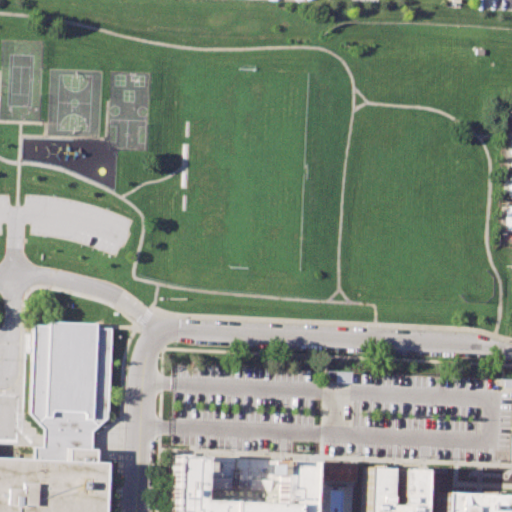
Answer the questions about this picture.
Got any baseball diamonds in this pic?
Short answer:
No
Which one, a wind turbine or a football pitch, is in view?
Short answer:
football pitch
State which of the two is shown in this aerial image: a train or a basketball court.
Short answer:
basketball court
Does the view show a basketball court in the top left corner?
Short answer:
Yes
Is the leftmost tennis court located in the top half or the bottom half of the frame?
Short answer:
top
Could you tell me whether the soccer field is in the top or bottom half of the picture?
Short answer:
top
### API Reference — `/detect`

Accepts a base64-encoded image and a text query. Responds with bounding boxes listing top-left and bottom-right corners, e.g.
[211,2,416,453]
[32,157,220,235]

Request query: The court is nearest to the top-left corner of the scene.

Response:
[0,40,44,120]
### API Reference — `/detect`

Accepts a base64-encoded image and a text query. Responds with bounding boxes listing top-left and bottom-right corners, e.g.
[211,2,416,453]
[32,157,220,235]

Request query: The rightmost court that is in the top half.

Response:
[109,72,150,150]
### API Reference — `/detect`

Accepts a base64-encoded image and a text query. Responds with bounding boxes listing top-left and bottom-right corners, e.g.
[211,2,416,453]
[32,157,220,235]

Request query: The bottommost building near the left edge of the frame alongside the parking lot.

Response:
[0,448,112,512]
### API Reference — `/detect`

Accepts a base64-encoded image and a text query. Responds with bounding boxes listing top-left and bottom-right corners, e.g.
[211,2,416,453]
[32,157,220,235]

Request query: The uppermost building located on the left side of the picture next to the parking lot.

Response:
[30,323,113,461]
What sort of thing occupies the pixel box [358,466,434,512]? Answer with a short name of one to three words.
building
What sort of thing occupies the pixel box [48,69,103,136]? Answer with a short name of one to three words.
basketball court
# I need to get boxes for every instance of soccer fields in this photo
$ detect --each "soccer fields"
[186,68,310,272]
